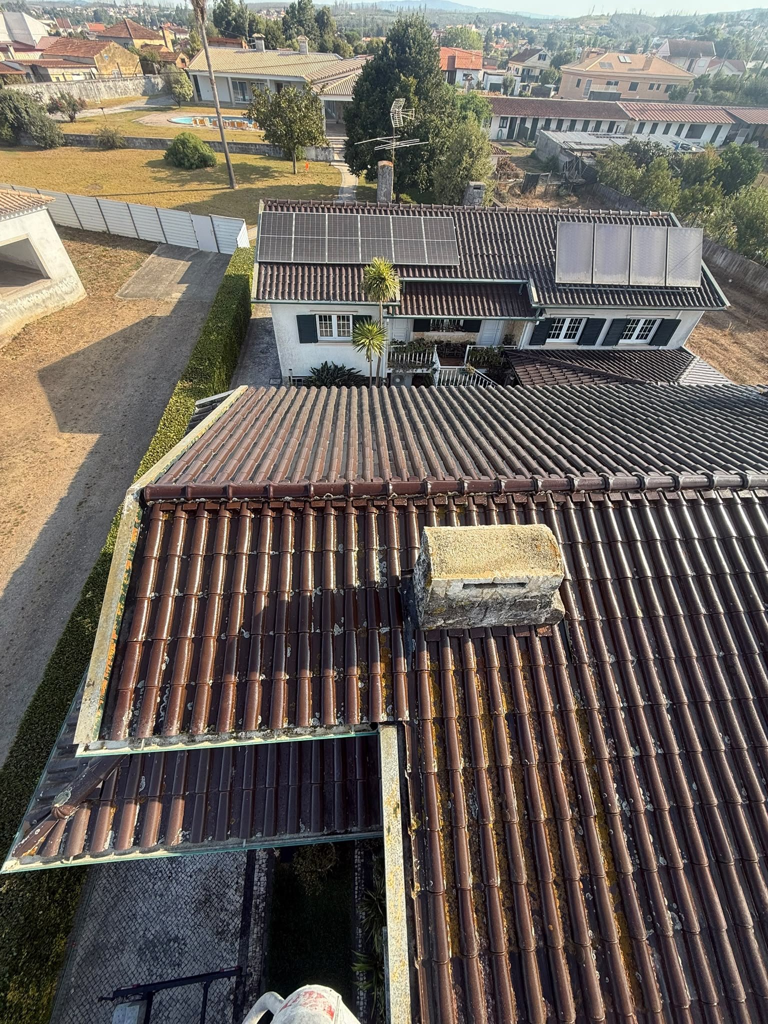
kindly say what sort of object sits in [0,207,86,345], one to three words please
house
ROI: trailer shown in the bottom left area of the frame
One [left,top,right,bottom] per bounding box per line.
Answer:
[86,965,257,1024]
